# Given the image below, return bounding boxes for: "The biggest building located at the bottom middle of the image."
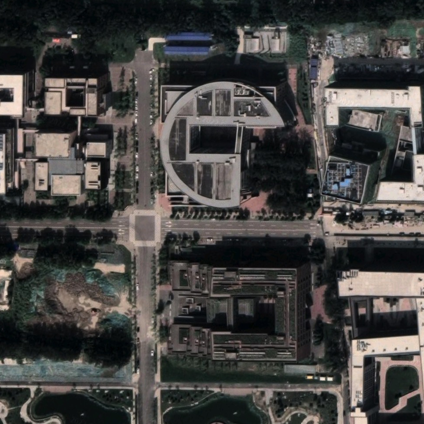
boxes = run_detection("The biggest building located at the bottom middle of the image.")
[168,256,311,361]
